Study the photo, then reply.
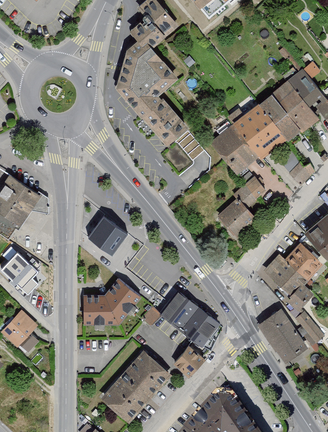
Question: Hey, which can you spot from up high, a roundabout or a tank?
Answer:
roundabout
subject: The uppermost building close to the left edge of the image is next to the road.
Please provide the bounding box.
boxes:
[0,175,48,240]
